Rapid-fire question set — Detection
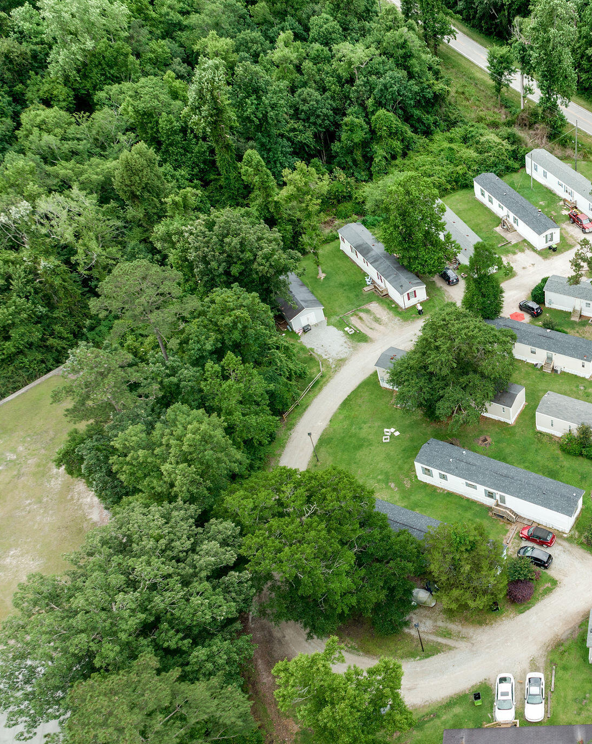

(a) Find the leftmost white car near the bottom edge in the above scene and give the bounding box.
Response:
[495,676,515,722]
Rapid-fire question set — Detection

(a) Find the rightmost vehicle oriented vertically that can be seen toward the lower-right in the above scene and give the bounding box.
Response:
[524,676,544,721]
